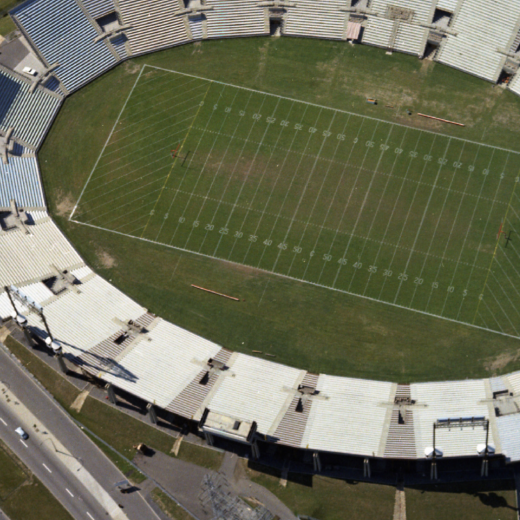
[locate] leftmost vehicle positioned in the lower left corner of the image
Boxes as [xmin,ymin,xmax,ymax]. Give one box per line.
[12,424,30,440]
